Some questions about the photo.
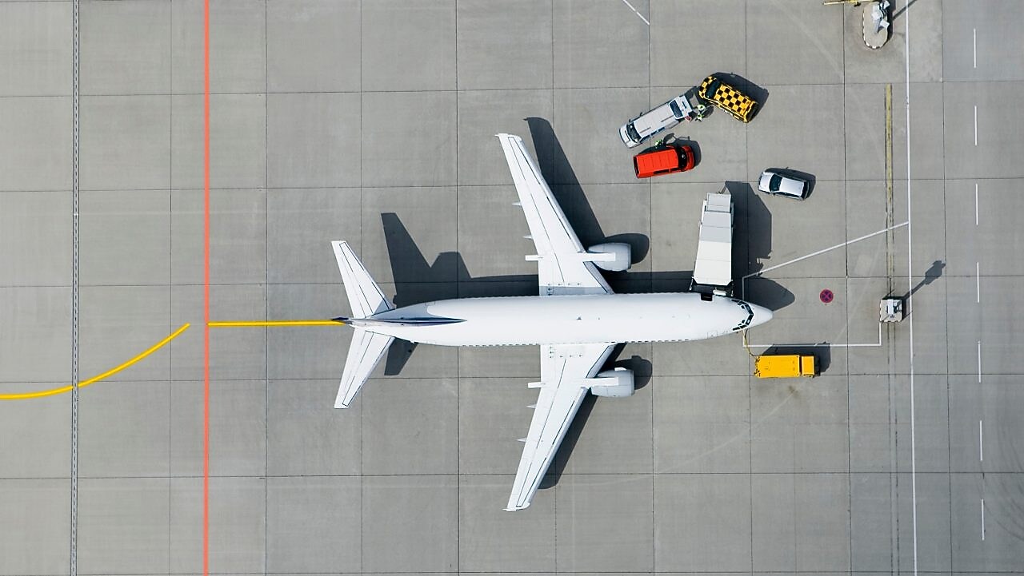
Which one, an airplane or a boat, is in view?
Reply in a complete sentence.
I can see an airplane in this picture.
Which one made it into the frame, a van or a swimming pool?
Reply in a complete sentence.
Of the two, only a van appears.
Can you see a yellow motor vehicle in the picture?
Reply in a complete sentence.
Yes, there is a yellow motor vehicle in the image.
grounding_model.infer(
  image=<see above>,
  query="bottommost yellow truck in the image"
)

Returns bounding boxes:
[753,352,822,380]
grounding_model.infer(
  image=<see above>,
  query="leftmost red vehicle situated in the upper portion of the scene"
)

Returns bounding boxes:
[633,145,696,180]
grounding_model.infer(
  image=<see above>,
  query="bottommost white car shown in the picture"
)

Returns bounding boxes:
[757,170,810,201]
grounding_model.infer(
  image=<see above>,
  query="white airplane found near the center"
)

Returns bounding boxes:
[332,133,773,510]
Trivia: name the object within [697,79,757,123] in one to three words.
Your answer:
car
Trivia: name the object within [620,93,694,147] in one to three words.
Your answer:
van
